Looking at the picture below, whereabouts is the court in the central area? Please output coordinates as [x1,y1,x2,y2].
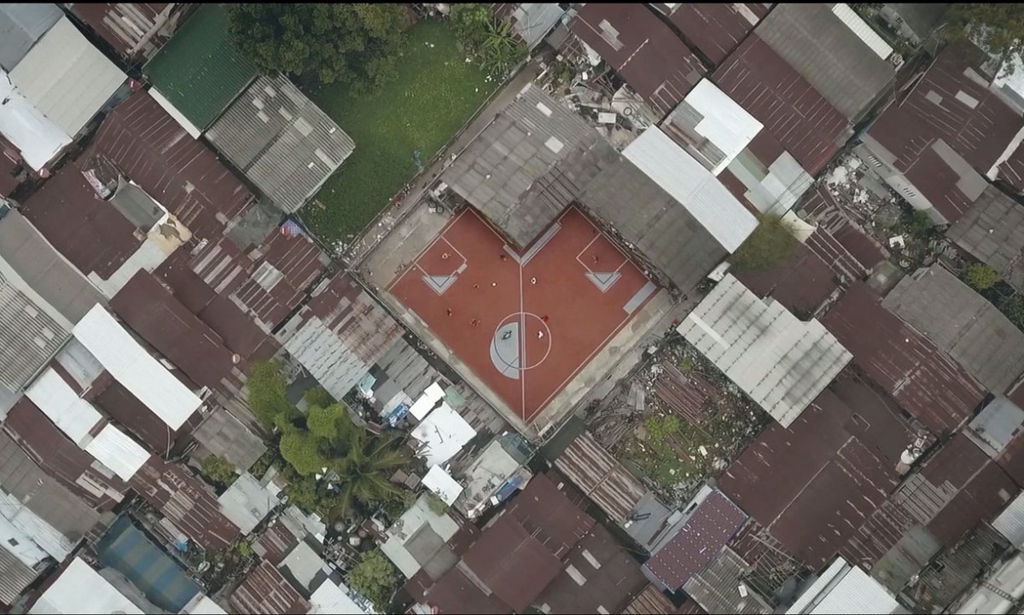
[385,201,670,427]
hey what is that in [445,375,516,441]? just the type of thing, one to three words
house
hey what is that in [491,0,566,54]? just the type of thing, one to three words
house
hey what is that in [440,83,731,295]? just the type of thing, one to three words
building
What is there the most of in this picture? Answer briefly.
buildings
